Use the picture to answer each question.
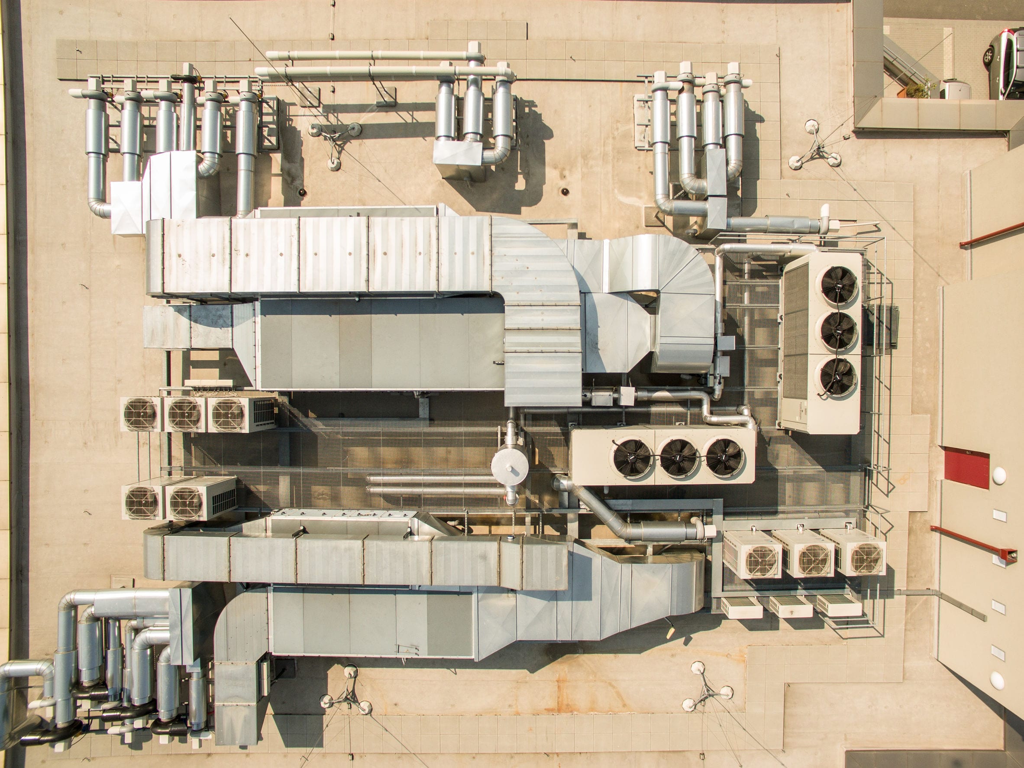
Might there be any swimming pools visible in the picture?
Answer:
No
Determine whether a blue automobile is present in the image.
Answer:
No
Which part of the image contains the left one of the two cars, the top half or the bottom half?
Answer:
top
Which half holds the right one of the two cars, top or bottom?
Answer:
top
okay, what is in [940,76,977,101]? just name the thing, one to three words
car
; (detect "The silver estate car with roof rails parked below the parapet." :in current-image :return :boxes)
[978,25,1024,102]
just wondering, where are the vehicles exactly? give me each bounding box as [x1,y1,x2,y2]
[940,76,977,101]
[978,25,1024,102]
